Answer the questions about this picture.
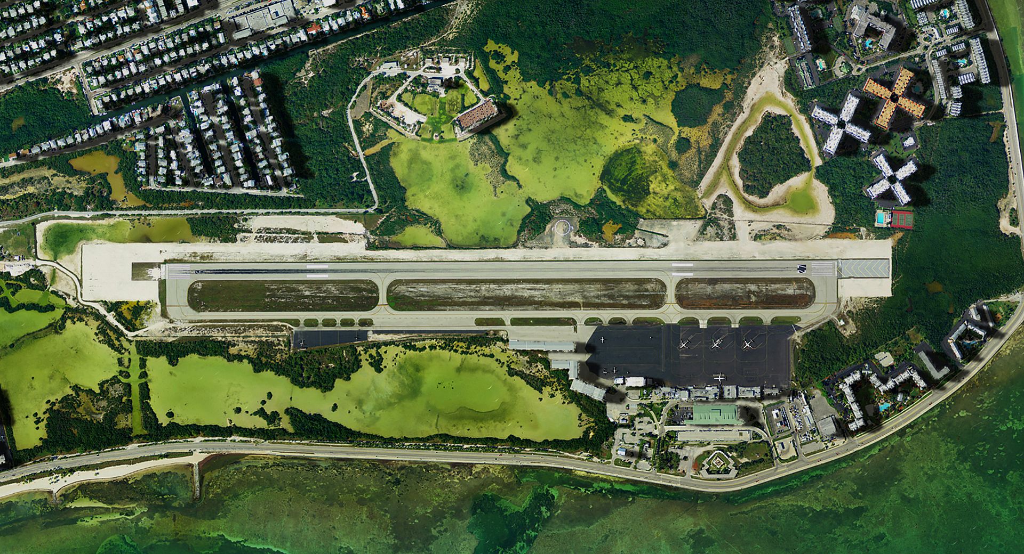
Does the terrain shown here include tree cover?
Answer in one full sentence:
Yes, tree cover can be seen from above here.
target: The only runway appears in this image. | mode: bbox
[166,259,836,279]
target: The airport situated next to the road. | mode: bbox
[166,258,890,387]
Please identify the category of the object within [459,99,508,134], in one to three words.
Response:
building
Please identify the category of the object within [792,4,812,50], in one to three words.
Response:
building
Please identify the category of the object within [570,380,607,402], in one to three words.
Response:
hangar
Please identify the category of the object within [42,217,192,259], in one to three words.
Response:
pond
